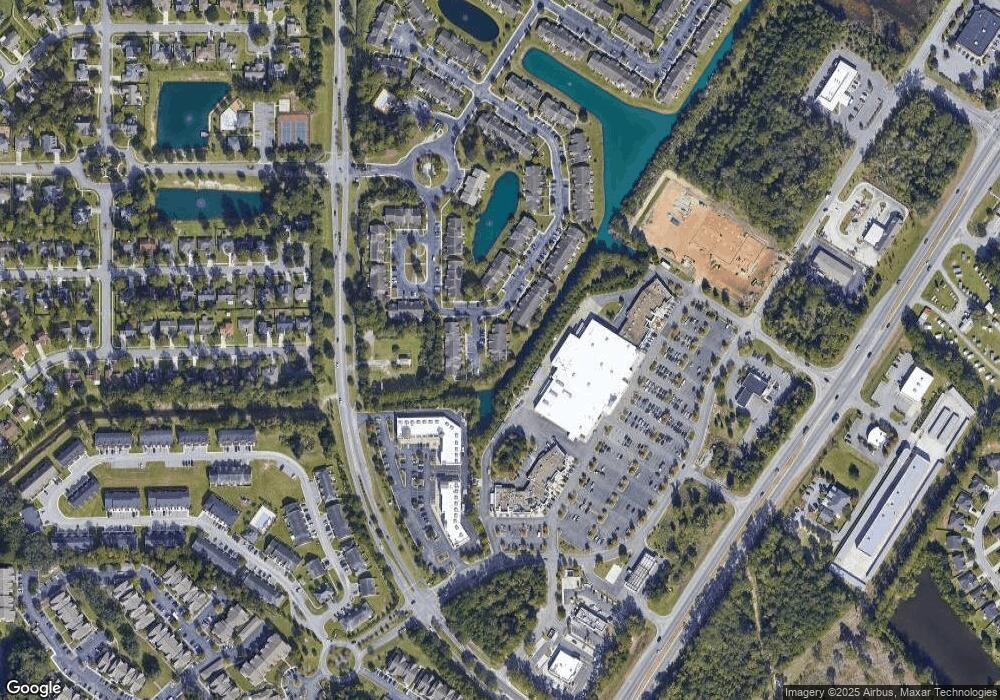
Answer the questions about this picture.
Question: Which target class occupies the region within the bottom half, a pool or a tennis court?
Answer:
pool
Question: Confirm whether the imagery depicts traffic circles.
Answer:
Yes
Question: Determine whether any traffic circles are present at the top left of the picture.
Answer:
Yes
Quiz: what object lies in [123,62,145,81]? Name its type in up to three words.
house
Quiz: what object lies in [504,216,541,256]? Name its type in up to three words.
building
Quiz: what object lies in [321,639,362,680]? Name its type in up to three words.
roundabout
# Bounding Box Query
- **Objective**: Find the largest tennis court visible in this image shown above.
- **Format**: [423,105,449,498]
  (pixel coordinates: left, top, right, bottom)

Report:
[278,112,310,145]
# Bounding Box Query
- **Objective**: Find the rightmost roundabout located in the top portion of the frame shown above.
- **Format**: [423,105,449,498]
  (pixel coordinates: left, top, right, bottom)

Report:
[404,143,457,195]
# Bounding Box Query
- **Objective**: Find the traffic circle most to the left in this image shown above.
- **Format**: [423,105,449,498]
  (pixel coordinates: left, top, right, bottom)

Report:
[74,137,136,190]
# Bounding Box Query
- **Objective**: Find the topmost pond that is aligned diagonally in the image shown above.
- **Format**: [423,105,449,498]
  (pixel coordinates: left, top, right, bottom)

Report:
[438,0,498,42]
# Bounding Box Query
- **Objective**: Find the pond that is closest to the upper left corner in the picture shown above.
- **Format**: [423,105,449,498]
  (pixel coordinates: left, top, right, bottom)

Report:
[156,80,233,148]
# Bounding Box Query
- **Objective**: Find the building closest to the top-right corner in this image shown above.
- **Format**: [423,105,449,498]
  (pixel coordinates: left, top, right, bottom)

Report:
[959,7,1000,57]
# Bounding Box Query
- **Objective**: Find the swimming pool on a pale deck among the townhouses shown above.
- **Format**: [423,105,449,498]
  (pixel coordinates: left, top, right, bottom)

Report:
[251,507,274,531]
